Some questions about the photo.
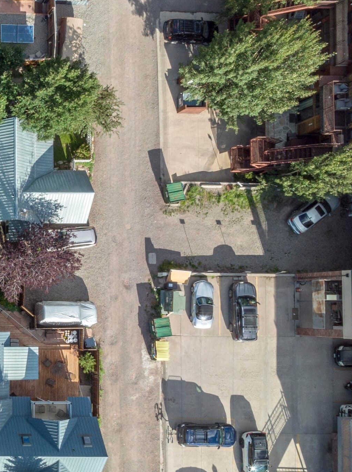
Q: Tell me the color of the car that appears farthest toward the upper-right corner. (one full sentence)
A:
The car that appears farthest toward the upper-right corner is black.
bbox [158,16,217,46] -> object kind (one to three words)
car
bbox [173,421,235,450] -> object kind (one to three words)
car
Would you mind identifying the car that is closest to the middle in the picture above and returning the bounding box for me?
[189,280,216,329]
